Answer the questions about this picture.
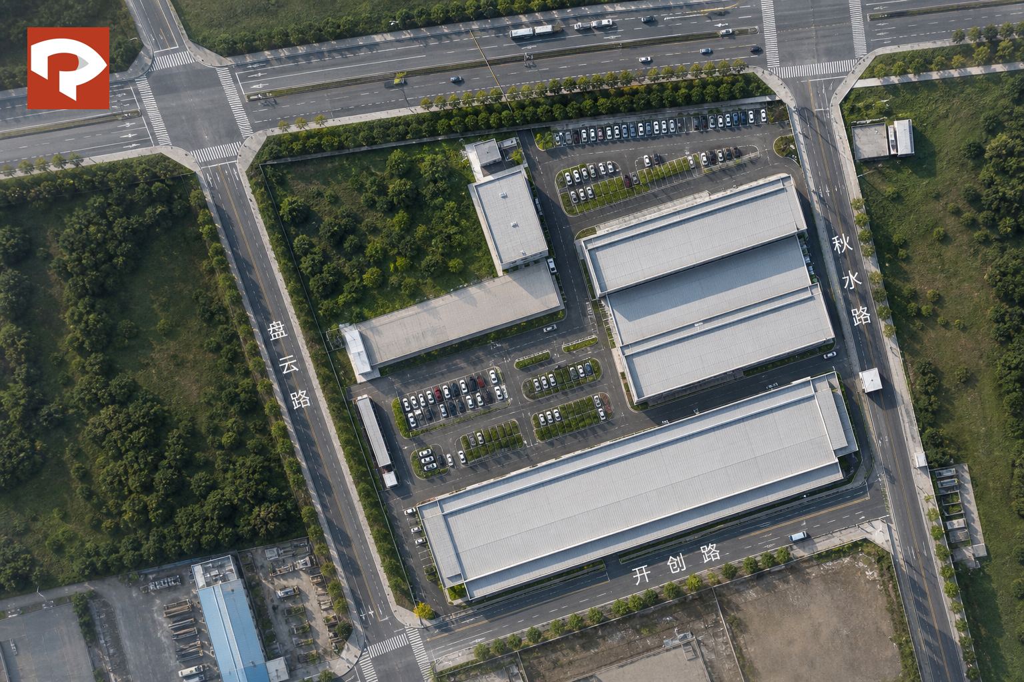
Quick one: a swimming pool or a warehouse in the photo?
warehouse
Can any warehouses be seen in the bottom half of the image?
Yes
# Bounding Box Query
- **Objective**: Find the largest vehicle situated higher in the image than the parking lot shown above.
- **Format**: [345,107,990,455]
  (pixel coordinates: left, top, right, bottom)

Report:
[508,22,552,38]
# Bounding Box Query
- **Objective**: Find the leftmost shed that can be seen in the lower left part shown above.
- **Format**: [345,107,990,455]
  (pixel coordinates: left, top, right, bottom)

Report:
[198,577,272,682]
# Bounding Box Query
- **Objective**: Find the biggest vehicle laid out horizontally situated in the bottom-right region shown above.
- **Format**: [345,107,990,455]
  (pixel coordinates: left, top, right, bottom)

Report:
[788,530,809,542]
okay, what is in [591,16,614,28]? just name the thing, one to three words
vehicle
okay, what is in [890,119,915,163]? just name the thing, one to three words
building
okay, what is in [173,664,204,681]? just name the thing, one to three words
vehicle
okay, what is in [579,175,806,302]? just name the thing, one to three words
warehouse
